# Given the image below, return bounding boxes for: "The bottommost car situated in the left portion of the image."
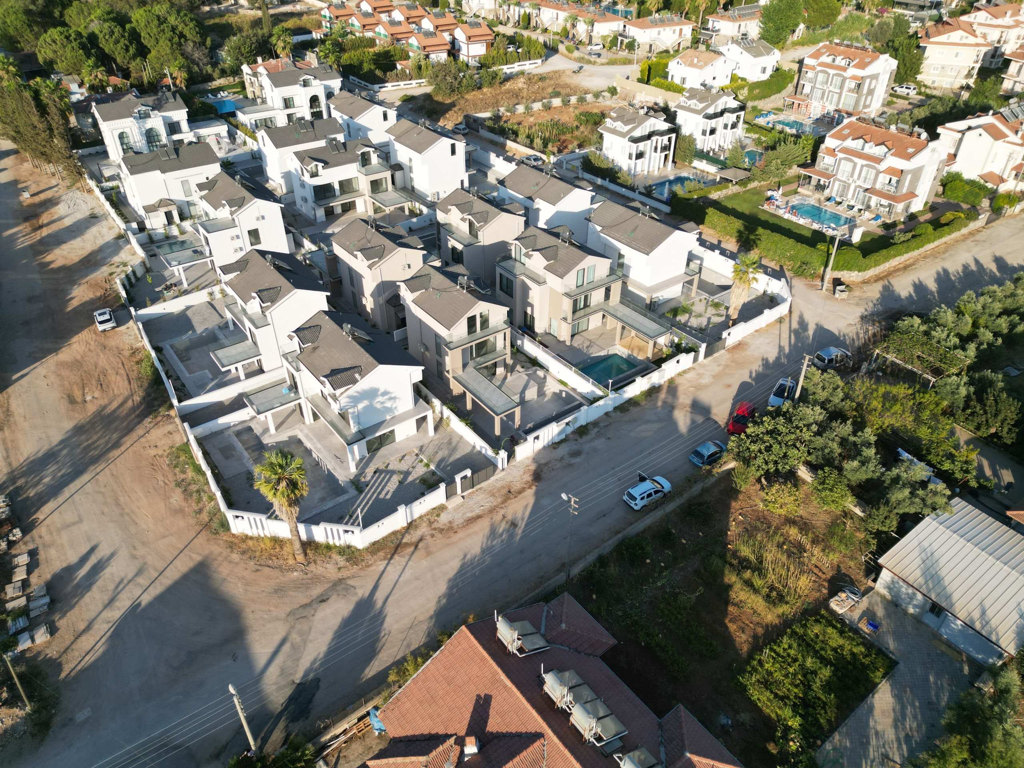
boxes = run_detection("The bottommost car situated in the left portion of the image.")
[94,309,118,331]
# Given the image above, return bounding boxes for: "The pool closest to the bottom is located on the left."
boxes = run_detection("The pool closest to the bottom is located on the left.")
[225,424,357,515]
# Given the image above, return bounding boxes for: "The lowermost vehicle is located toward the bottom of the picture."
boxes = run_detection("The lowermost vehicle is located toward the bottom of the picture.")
[623,473,672,510]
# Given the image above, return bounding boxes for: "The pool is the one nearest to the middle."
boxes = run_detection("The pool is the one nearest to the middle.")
[577,351,641,386]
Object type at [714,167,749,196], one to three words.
building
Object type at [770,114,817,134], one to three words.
swimming pool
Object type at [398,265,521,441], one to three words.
house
